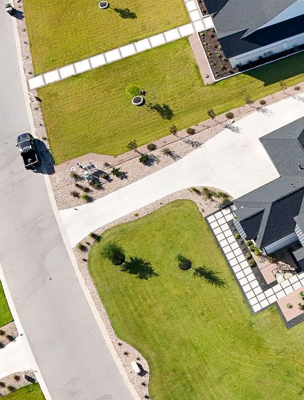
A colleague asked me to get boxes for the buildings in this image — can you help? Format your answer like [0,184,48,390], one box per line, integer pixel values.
[233,117,304,270]
[205,0,304,70]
